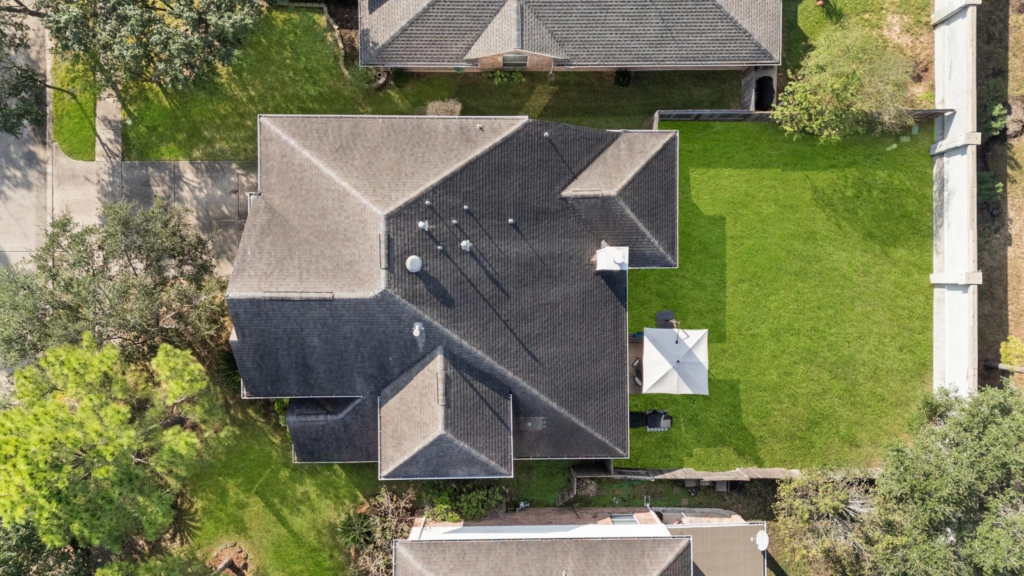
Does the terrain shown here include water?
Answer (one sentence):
No, the picture contains no water.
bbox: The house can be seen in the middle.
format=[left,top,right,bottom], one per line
[226,115,681,482]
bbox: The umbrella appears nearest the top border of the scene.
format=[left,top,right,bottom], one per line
[642,311,709,395]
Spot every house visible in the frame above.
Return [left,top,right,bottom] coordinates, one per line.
[357,0,784,78]
[226,115,681,482]
[391,502,695,576]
